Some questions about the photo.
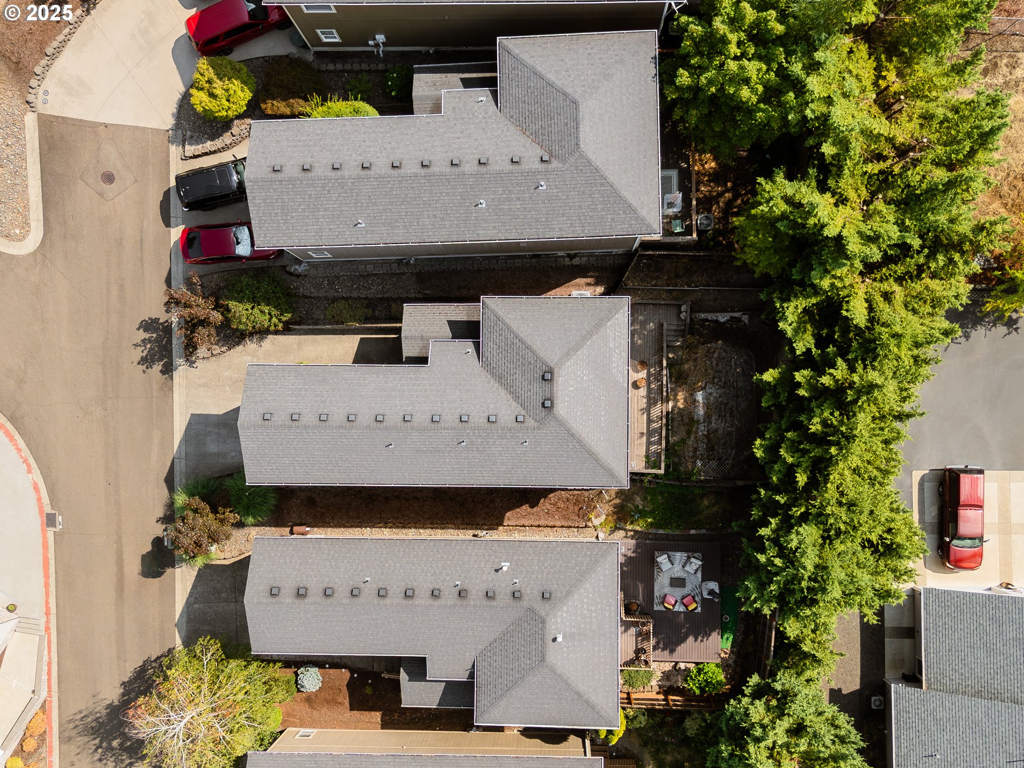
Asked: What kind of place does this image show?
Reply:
residential area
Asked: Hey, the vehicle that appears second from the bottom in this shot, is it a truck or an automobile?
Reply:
automobile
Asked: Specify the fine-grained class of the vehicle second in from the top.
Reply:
automobile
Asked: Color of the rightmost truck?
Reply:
red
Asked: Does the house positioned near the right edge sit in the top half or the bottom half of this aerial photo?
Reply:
bottom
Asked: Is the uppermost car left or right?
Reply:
left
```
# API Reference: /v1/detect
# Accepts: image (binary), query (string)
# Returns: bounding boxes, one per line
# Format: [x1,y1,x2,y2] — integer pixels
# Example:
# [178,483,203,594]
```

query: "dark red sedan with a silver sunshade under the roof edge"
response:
[177,211,265,266]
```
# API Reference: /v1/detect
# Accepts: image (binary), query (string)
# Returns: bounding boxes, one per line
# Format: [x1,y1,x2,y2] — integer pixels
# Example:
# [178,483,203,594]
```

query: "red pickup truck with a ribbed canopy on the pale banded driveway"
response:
[934,464,993,573]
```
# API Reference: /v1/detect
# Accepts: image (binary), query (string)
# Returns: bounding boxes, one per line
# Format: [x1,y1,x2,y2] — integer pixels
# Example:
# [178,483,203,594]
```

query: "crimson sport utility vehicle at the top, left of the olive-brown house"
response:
[181,0,291,60]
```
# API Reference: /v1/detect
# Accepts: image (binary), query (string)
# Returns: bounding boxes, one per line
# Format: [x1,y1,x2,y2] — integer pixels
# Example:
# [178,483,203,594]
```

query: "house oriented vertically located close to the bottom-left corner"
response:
[0,599,33,671]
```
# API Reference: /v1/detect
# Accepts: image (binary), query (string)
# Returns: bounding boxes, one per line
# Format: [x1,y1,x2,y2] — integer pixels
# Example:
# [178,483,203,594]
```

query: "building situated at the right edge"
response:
[885,585,1024,768]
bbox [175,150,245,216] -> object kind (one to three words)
car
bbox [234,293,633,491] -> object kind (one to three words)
house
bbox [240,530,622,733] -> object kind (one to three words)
house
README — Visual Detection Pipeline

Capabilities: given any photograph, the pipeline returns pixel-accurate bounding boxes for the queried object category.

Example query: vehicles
[175,150,245,216]
[934,464,993,573]
[177,211,265,266]
[181,0,291,60]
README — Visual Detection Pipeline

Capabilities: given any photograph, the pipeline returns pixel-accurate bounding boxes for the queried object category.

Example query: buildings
[240,530,622,733]
[234,293,633,491]
[0,599,33,671]
[885,585,1024,768]
[240,30,665,264]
